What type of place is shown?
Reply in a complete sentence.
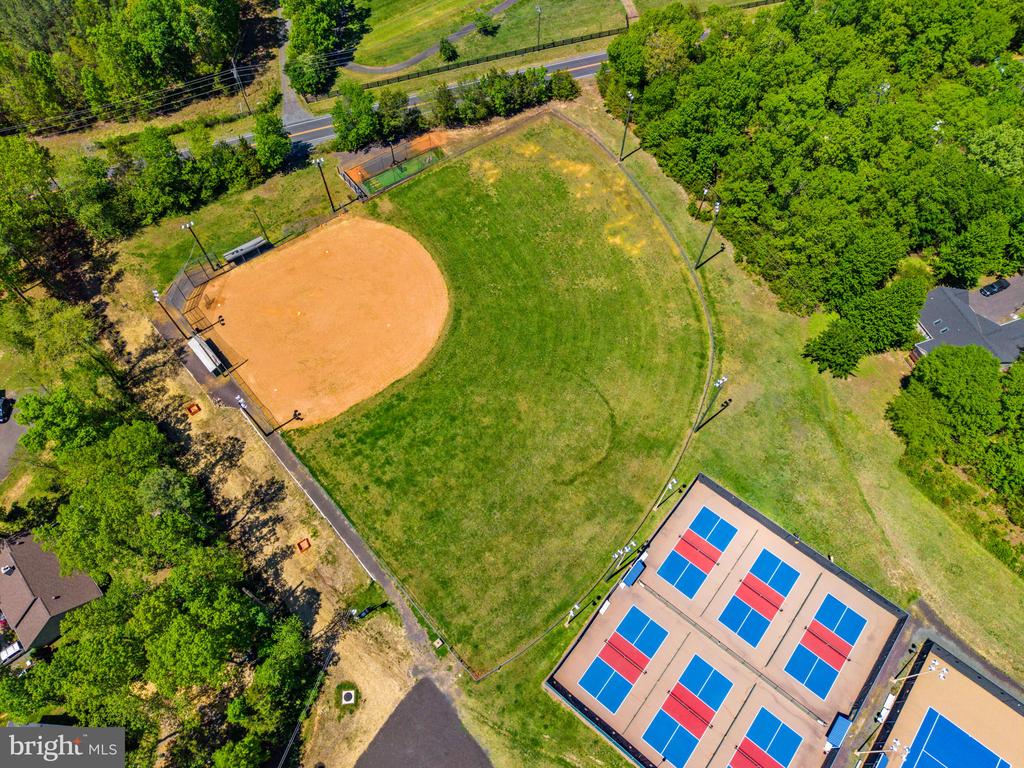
This image shows a sports ground.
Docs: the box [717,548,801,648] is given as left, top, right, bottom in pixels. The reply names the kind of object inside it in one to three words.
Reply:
sports court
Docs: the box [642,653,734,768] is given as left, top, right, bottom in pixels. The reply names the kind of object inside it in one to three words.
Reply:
sports court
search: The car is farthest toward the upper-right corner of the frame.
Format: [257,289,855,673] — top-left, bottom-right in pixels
[980,280,1010,296]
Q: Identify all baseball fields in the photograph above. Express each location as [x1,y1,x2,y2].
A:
[184,109,714,682]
